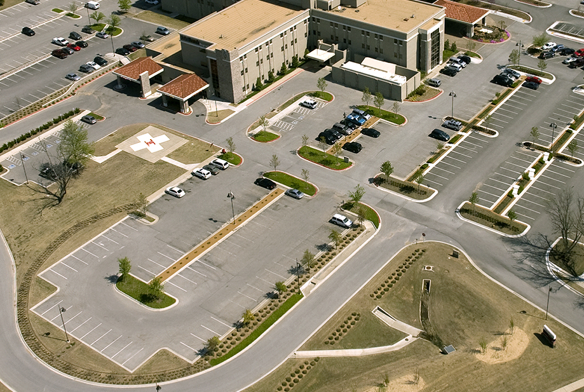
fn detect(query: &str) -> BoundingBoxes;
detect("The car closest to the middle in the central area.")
[285,189,305,201]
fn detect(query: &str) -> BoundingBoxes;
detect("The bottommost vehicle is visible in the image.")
[332,212,353,229]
